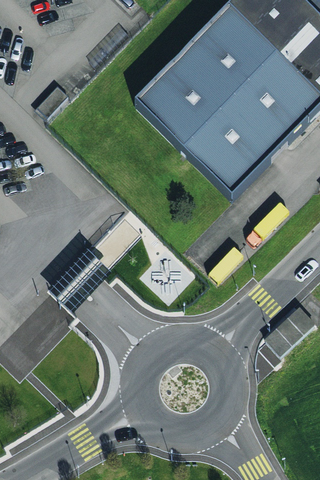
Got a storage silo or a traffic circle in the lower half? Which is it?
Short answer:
traffic circle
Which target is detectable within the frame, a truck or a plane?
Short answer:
truck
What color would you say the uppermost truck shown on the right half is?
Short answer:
yellow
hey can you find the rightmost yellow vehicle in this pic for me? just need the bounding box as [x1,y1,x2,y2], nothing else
[245,202,288,252]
